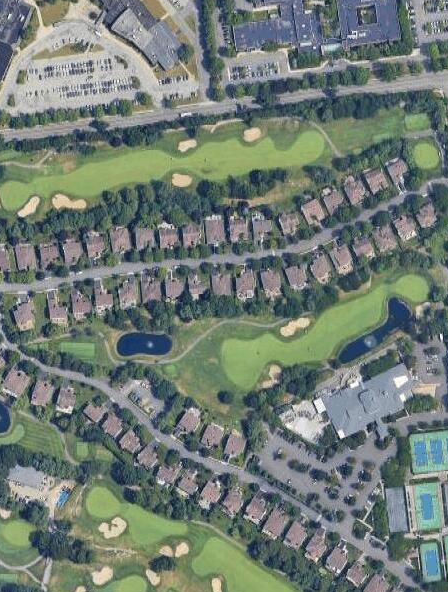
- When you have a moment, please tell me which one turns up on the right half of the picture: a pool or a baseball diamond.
pool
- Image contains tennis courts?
Yes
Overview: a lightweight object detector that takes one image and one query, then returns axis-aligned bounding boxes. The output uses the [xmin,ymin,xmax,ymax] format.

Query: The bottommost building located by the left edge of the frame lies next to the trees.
[7,464,43,486]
